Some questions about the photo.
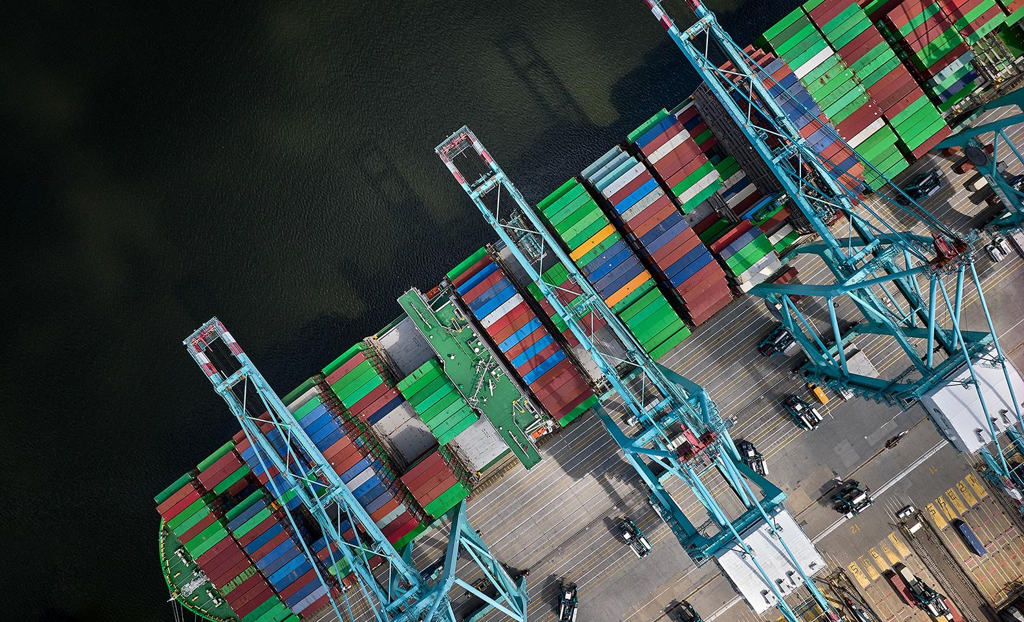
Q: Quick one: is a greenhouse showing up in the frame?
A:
No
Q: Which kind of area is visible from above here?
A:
port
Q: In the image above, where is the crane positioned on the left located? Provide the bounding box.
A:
[170,313,537,622]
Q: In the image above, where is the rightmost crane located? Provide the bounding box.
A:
[913,85,1024,234]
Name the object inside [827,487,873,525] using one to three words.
work vehicle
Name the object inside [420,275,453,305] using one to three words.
boat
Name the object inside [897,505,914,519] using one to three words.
vehicle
